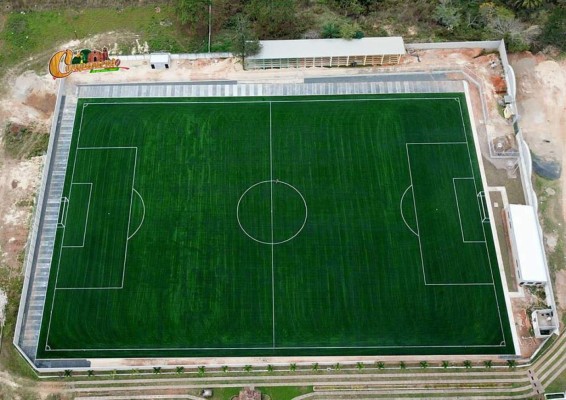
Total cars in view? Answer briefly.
zero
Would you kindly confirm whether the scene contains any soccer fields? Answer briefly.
Yes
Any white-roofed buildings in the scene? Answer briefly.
Yes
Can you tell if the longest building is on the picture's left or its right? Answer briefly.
right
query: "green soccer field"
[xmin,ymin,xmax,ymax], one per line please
[36,92,515,359]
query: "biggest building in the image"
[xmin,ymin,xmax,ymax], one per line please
[507,201,550,286]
